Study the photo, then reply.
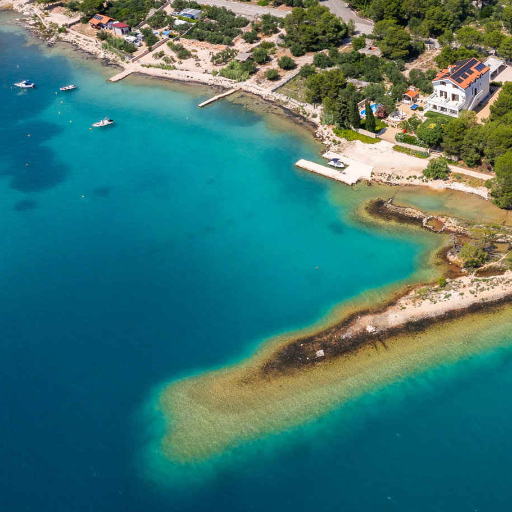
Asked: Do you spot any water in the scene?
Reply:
Yes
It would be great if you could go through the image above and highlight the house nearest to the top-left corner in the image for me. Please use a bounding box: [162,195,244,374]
[85,17,113,34]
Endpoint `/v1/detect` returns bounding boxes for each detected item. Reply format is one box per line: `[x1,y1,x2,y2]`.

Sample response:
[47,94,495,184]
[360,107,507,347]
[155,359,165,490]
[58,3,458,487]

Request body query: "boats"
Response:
[59,83,77,91]
[13,78,36,87]
[327,156,344,166]
[91,115,114,126]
